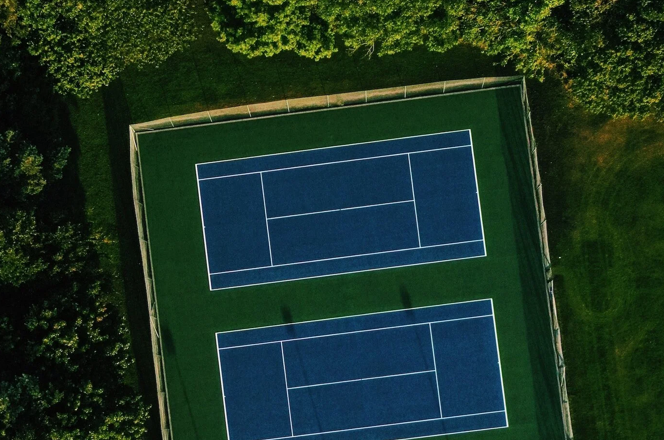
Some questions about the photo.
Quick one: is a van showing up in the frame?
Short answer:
No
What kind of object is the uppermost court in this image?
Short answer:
tennis court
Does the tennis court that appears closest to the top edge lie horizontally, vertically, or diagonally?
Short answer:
horizontally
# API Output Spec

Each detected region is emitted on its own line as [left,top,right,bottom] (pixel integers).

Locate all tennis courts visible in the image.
[215,298,509,440]
[195,129,487,291]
